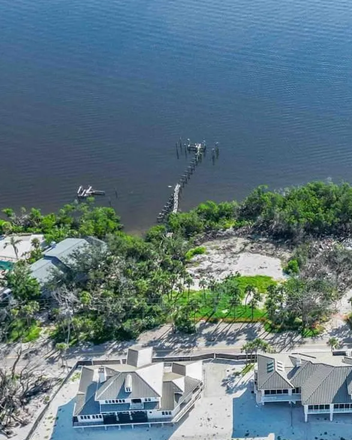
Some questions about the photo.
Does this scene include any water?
Yes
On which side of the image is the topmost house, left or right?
left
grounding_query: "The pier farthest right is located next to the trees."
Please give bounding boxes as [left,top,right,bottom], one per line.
[155,137,217,218]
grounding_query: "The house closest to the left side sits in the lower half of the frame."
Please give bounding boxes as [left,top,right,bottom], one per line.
[30,236,105,296]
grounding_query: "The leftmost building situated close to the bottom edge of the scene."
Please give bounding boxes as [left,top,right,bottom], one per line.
[74,348,207,439]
